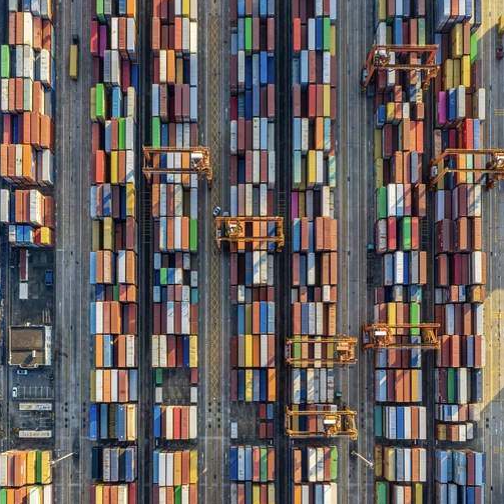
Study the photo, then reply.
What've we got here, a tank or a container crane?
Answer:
container crane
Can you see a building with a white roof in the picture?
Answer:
No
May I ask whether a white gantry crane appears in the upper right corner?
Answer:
No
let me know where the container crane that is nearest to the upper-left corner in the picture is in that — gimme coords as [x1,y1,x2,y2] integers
[141,145,217,190]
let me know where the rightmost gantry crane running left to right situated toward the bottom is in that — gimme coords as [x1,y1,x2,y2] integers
[360,322,443,351]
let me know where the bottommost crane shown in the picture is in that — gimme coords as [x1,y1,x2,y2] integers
[280,405,357,437]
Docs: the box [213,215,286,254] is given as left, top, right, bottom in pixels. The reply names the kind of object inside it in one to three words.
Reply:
container crane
